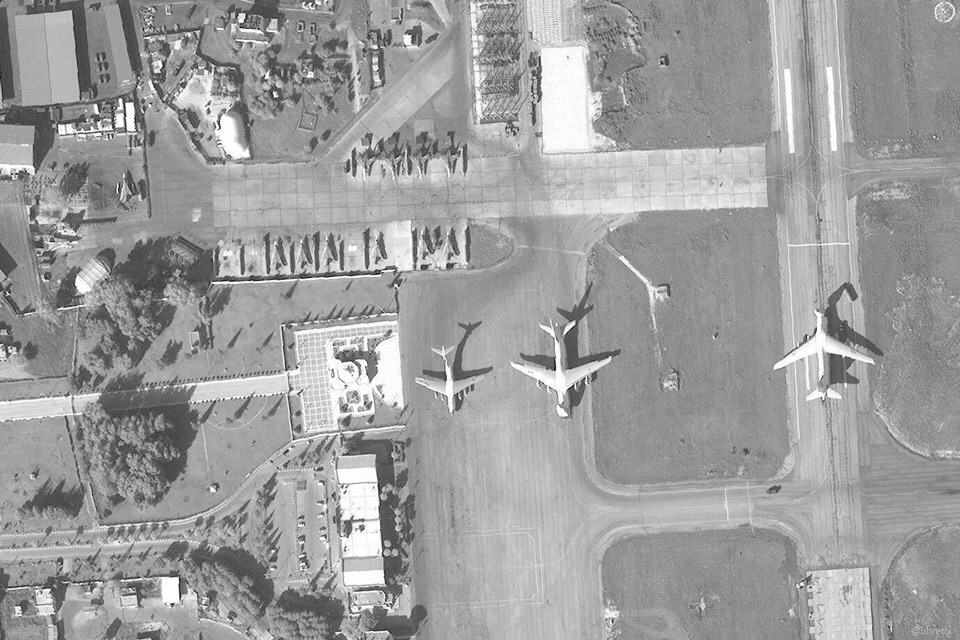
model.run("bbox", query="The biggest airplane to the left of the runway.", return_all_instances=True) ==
[509,322,614,417]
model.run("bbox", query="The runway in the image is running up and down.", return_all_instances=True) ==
[747,0,872,562]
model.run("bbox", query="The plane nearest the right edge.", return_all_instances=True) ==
[770,309,874,401]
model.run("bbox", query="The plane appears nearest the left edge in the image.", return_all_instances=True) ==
[116,174,129,203]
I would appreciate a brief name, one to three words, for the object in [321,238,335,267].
airplane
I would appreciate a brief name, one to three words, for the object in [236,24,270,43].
building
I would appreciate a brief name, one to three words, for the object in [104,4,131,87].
shed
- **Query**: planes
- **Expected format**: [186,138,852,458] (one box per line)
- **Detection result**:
[442,233,456,263]
[438,145,459,176]
[269,243,283,273]
[413,344,484,413]
[770,309,874,401]
[352,149,374,180]
[409,147,430,179]
[116,174,129,203]
[295,241,309,271]
[415,232,429,262]
[321,238,335,267]
[509,322,614,417]
[382,148,403,179]
[370,233,384,263]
